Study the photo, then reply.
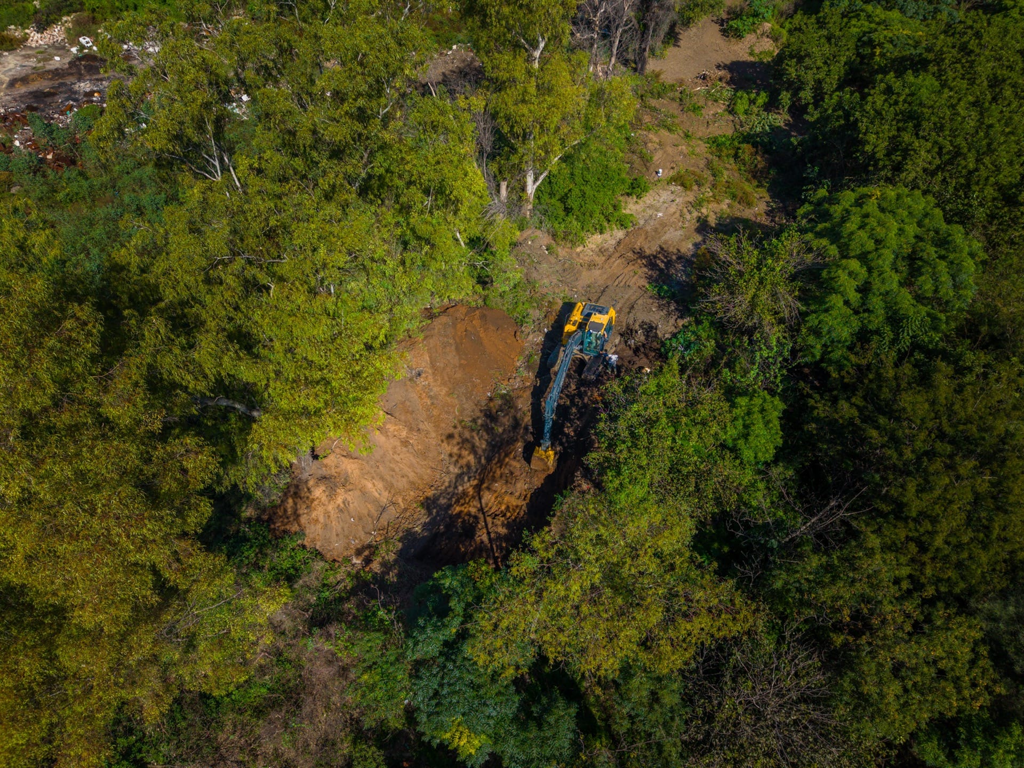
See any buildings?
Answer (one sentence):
No, I can see no building in this picture.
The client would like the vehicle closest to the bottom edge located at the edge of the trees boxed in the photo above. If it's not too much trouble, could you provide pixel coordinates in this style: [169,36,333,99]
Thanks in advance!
[535,301,613,465]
